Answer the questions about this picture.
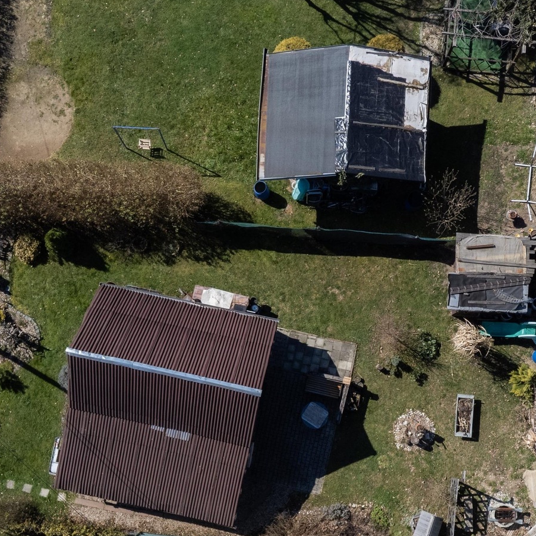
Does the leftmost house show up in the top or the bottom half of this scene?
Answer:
bottom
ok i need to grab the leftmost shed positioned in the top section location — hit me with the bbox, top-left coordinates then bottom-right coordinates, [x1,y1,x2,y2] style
[253,39,433,194]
